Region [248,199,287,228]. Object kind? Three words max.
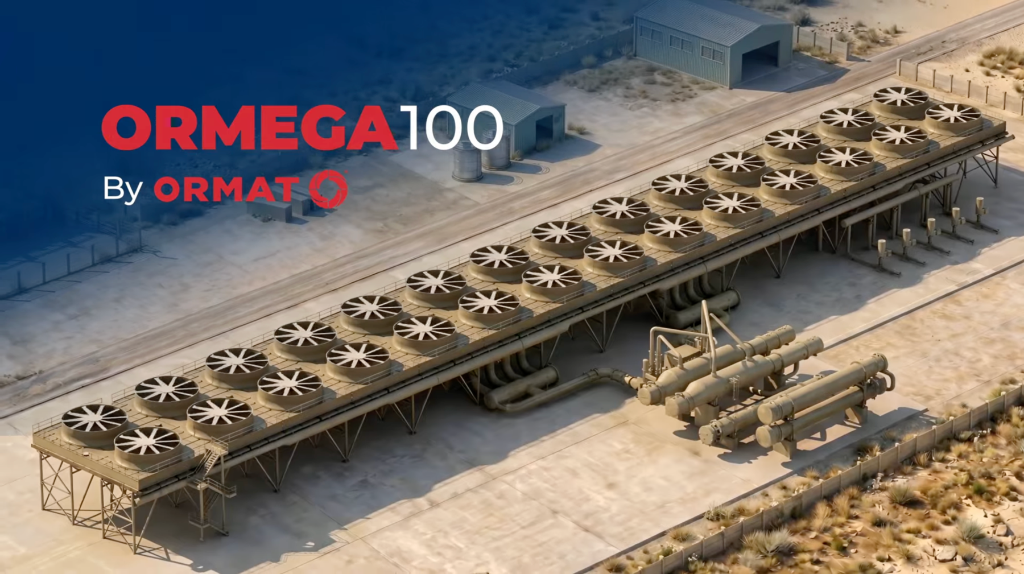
shipping container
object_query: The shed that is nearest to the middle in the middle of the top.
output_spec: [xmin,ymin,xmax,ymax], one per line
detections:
[446,82,566,158]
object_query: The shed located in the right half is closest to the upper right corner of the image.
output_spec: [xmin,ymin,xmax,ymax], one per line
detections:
[629,0,797,88]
